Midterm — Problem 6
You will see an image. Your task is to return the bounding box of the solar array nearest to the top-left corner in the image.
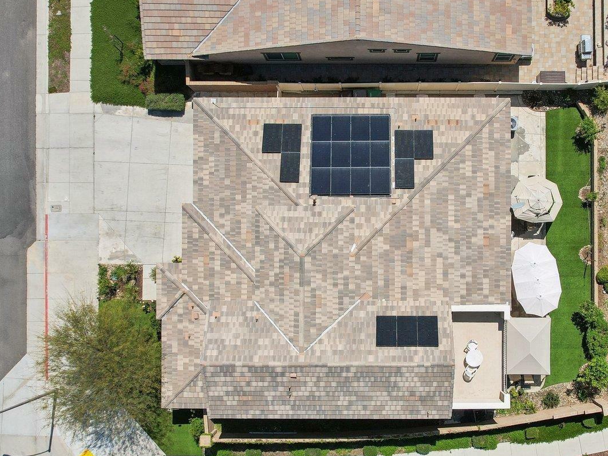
[261,123,301,181]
